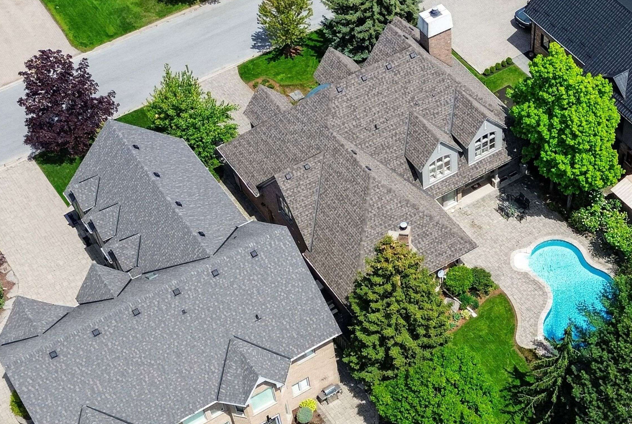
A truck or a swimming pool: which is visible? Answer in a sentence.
The one in the frame is a swimming pool.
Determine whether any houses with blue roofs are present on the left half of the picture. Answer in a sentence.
No, on the left half of the picture there is no house with a blue roof.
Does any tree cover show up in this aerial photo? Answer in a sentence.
Yes, there's tree cover in this view.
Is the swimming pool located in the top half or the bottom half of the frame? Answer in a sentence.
It is in the bottom half that the swimming pool appears.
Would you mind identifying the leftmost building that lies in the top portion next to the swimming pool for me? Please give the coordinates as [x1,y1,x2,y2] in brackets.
[216,4,541,322]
